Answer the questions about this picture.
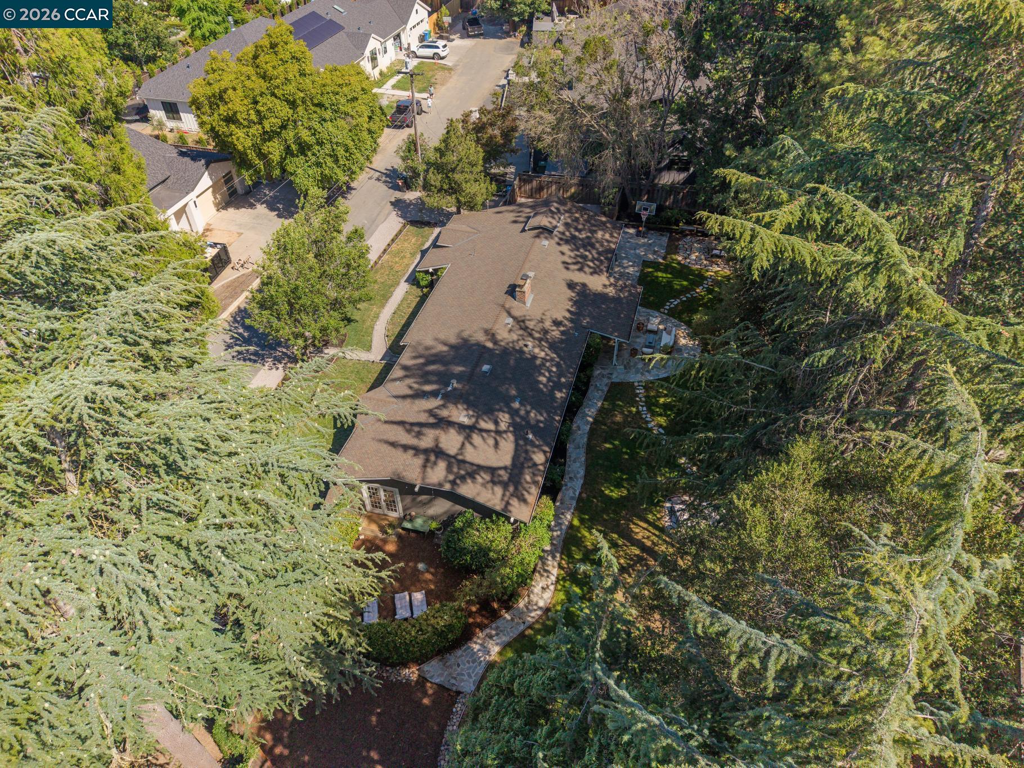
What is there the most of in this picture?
trees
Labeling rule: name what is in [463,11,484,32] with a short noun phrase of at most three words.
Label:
truck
